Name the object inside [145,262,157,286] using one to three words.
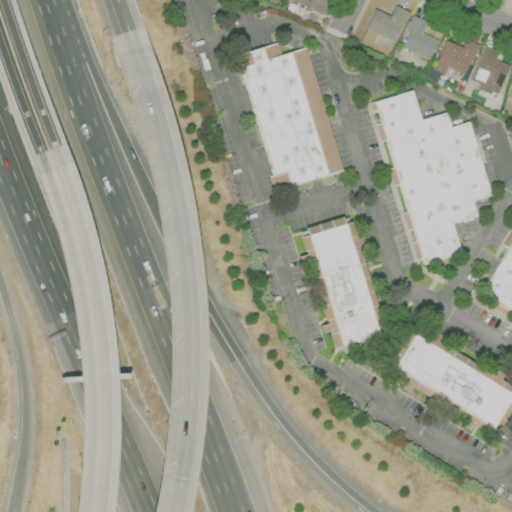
vehicle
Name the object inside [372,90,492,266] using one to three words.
building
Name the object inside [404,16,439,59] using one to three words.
house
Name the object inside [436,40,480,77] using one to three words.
house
